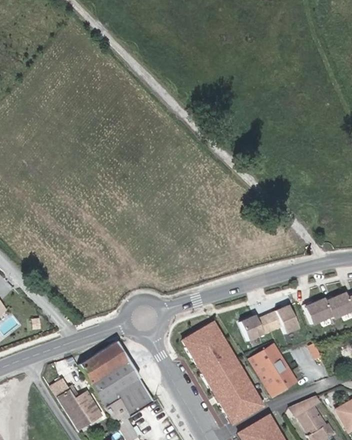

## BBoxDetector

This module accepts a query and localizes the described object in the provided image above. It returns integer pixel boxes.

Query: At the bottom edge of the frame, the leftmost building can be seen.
[48,378,103,432]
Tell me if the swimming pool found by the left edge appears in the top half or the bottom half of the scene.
bottom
